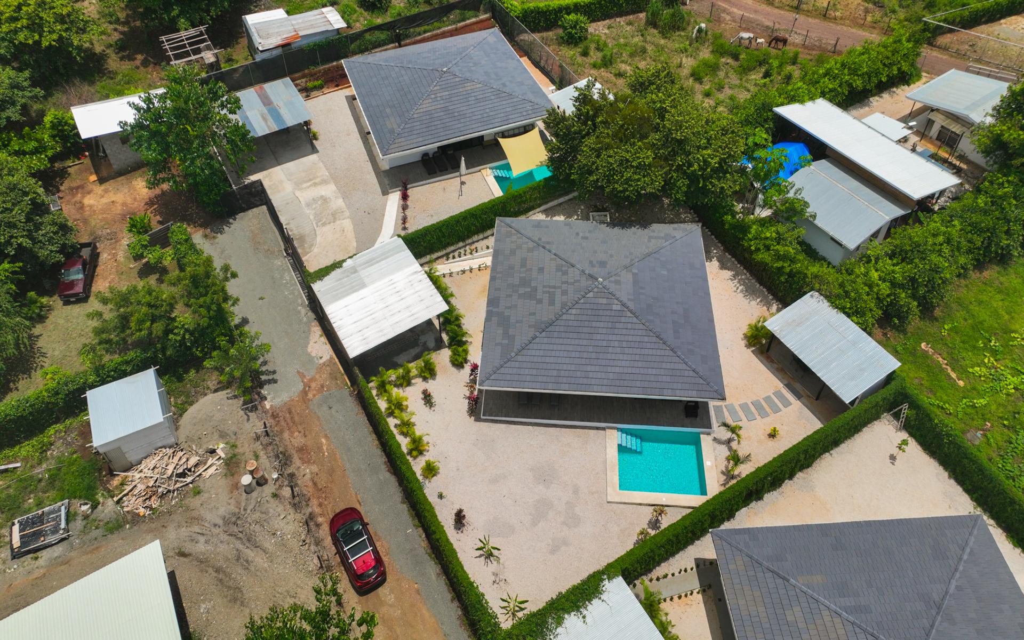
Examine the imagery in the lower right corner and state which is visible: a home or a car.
home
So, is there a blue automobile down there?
No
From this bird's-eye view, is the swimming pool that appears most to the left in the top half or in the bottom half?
top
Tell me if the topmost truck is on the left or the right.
left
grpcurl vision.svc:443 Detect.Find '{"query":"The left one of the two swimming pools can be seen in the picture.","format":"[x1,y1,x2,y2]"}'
[482,152,565,198]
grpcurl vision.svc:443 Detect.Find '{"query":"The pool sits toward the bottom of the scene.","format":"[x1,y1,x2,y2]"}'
[606,427,718,507]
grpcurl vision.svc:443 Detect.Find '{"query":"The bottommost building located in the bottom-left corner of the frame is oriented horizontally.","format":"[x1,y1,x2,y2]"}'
[0,540,215,640]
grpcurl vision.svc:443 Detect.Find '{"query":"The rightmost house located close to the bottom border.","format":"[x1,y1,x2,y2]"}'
[710,513,1024,640]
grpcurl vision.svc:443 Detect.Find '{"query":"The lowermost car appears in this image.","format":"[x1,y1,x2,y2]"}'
[332,511,386,599]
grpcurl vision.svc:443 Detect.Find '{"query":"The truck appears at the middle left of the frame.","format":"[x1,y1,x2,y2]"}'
[60,242,106,302]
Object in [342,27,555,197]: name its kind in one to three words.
house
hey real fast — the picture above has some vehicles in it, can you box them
[60,242,106,302]
[332,511,386,599]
